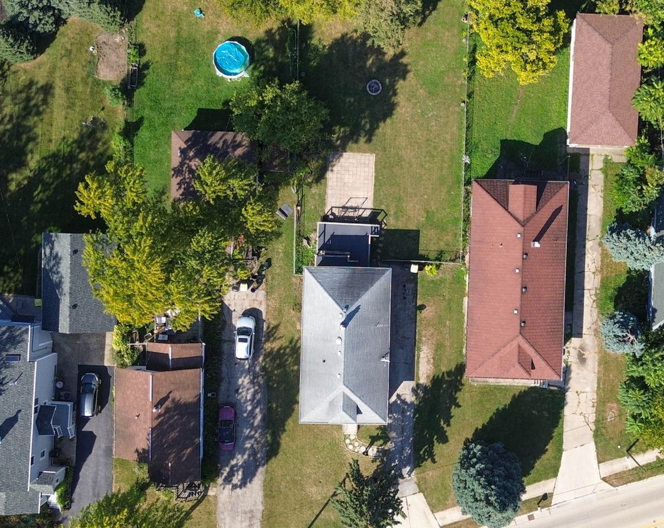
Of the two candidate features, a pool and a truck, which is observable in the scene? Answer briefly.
pool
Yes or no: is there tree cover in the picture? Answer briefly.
Yes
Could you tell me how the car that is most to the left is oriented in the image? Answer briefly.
from top to bottom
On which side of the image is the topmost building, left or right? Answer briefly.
right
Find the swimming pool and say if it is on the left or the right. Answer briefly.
left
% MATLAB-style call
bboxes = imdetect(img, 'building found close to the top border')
[566,12,645,148]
